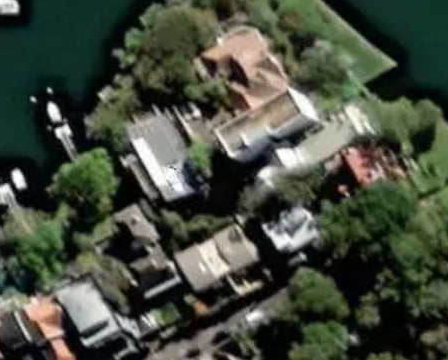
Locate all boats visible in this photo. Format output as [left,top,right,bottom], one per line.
[12,169,26,191]
[0,0,18,13]
[48,102,62,123]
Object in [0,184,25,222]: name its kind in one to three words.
pier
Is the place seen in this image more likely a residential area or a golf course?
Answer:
residential area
